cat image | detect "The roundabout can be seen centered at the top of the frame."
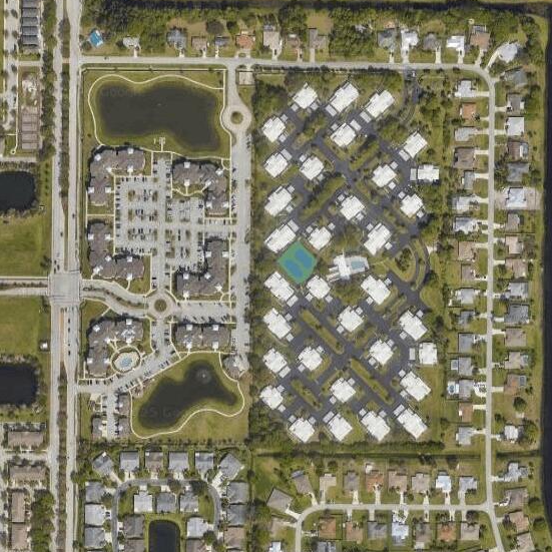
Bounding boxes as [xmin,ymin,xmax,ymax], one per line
[223,104,251,132]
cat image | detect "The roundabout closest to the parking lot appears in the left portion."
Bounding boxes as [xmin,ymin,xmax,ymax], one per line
[147,291,176,320]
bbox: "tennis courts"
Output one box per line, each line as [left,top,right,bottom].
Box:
[277,241,317,284]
